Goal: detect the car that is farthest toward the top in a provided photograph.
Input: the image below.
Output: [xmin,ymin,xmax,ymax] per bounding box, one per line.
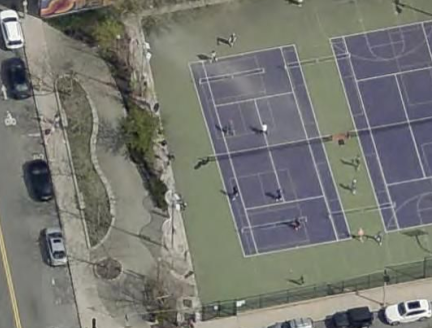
[1,12,25,52]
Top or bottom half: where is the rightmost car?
bottom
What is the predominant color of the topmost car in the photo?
white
